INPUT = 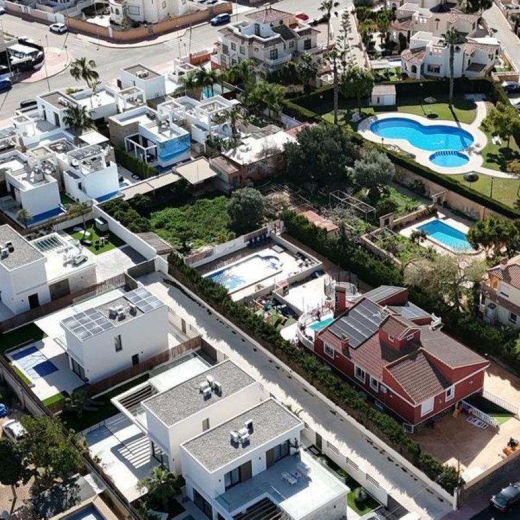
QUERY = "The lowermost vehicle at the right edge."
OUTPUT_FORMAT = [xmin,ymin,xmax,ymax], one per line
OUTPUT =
[489,479,520,515]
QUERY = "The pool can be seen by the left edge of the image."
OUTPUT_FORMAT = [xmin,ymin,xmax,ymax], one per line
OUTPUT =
[10,342,65,383]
